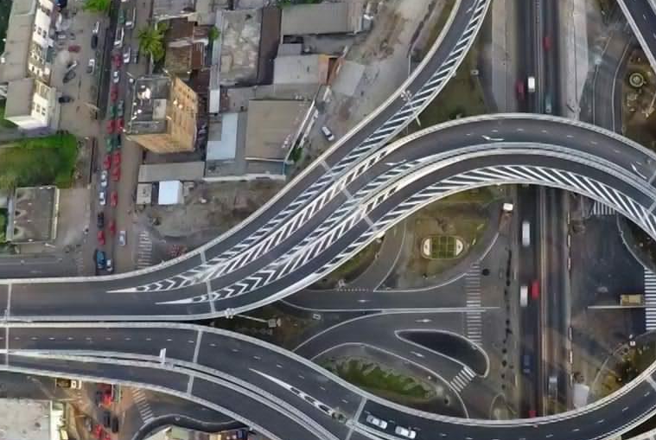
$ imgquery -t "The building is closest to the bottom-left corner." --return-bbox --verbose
[0,399,66,440]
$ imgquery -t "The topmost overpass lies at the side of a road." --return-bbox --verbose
[0,0,656,321]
